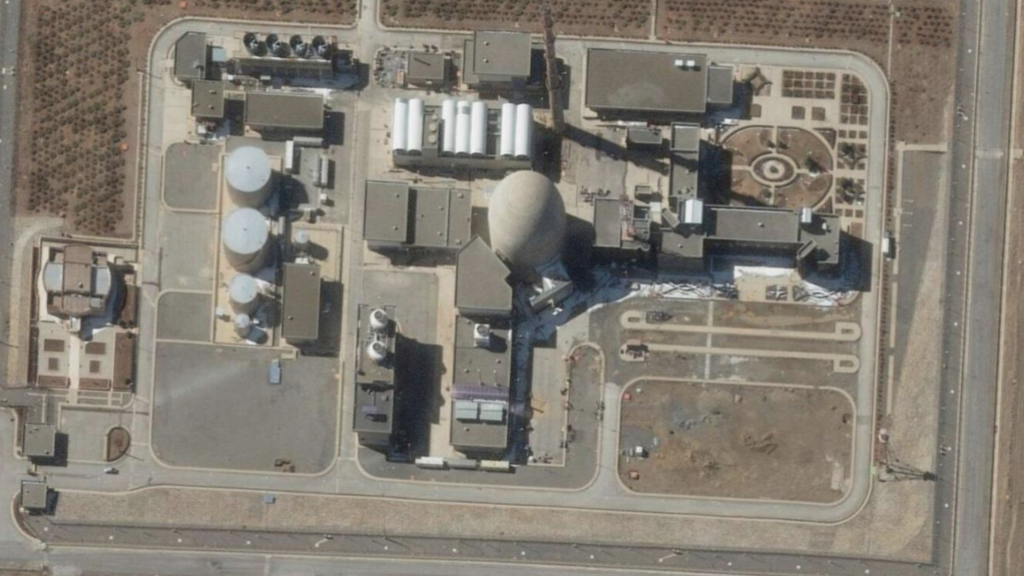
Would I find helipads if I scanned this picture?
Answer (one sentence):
No, no helipad is visible in the scene.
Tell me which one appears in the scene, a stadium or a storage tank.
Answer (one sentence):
The image shows a storage tank.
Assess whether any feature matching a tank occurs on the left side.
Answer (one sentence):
Yes, you'll find a tank on the left side.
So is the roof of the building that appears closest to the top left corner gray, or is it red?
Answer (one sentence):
The roof of the building that appears closest to the top left corner is gray.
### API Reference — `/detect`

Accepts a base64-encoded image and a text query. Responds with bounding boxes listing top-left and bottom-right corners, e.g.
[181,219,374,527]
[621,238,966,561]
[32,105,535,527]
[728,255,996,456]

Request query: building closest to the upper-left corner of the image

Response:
[174,31,207,85]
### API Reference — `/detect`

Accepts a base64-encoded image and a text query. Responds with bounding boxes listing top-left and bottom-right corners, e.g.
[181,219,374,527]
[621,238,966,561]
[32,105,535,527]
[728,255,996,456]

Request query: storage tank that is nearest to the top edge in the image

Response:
[226,145,274,209]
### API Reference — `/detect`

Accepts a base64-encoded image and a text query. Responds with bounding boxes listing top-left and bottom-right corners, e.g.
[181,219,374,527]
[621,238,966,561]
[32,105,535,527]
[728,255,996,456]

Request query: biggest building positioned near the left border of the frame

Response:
[43,245,114,337]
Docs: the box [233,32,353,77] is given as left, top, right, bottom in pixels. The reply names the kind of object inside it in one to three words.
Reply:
cooling tower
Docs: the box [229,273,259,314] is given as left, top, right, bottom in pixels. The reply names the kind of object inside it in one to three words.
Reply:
storage tank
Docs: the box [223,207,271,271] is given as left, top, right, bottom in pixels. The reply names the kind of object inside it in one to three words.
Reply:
storage tank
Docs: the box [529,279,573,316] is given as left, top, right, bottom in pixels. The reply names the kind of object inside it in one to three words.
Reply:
building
